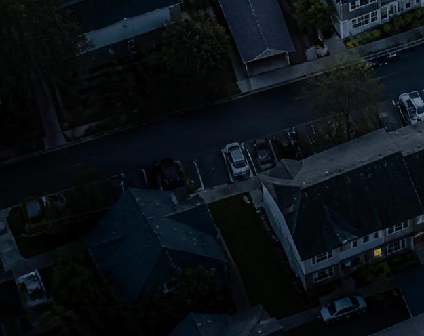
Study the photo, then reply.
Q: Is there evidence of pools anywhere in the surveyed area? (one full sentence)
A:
No, the picture doesn't show any pool.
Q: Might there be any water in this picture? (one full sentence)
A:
No, no water is visible.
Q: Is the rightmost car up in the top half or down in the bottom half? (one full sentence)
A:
It is in the top half that the rightmost car appears.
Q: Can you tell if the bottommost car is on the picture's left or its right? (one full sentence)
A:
It is on the right.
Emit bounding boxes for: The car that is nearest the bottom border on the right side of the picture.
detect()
[319,295,368,324]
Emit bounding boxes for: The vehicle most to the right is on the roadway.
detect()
[401,91,424,124]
